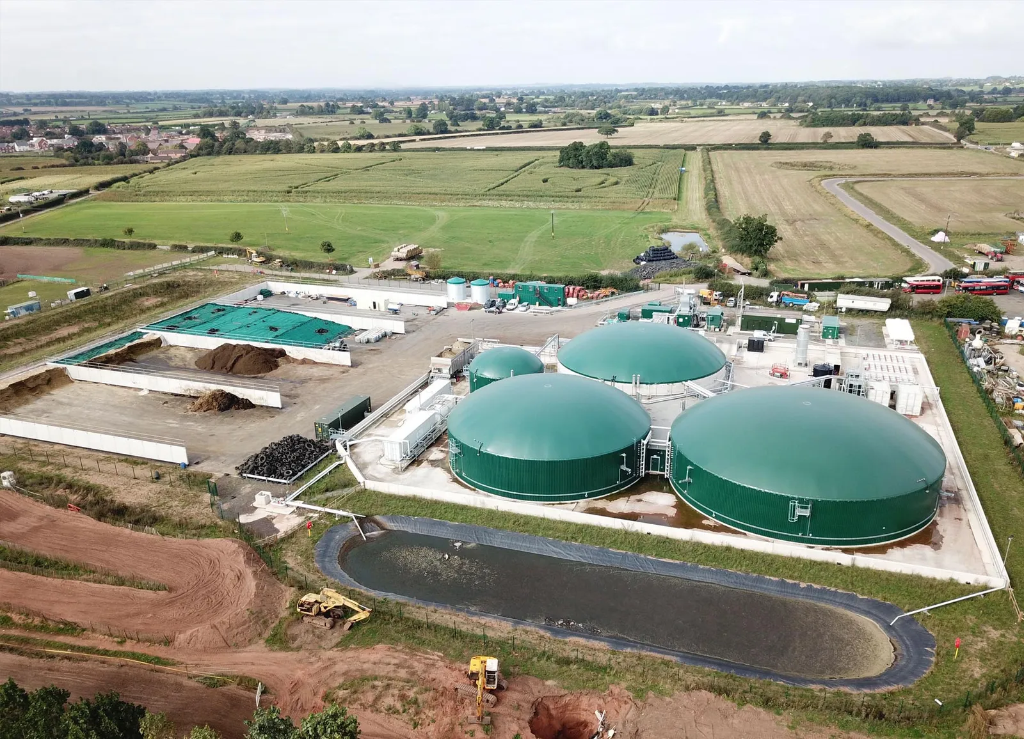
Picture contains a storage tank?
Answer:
Yes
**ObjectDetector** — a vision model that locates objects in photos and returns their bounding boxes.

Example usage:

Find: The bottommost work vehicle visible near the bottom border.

[460,660,509,724]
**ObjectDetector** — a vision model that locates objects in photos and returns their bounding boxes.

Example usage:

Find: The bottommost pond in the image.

[309,513,942,696]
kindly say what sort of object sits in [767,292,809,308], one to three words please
vehicle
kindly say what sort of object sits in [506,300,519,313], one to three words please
vehicle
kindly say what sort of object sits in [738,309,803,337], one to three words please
building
